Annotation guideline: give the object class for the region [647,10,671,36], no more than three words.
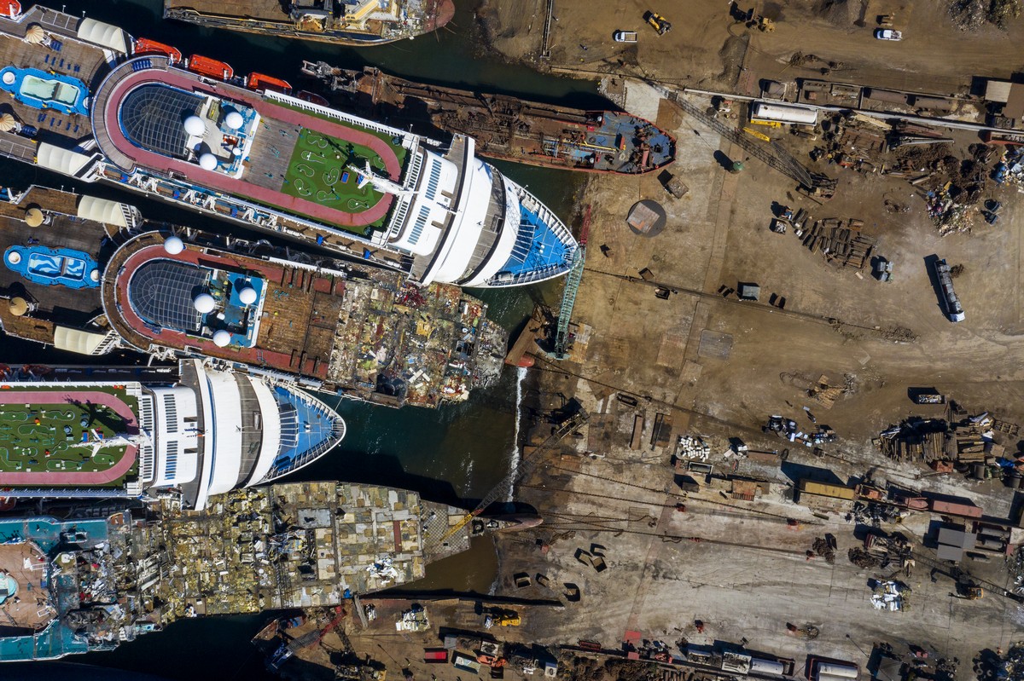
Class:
work vehicle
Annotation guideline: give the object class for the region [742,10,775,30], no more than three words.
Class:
work vehicle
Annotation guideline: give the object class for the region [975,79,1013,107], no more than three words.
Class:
shed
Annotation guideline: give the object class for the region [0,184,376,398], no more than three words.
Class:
ship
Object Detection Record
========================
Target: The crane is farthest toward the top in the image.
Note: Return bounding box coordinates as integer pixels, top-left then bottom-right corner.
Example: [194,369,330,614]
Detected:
[743,126,837,200]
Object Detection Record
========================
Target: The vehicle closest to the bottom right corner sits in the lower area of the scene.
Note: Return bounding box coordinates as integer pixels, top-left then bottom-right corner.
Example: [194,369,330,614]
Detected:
[931,582,990,596]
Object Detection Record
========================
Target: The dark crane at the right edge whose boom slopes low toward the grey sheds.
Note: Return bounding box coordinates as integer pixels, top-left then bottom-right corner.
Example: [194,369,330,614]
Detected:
[912,551,1024,612]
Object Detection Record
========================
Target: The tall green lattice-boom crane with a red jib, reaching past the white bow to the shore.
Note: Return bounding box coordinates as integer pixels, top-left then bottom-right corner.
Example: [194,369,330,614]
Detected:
[547,206,590,364]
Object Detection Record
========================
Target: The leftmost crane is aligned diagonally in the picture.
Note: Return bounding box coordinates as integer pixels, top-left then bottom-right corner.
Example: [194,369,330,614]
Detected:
[258,608,350,677]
